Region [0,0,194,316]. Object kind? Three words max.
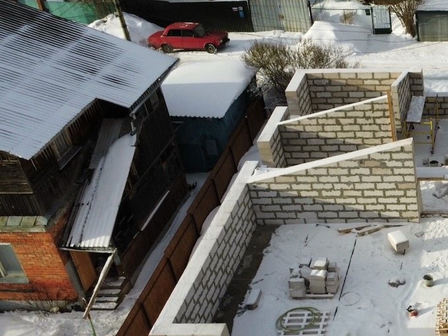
house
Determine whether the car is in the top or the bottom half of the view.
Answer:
top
